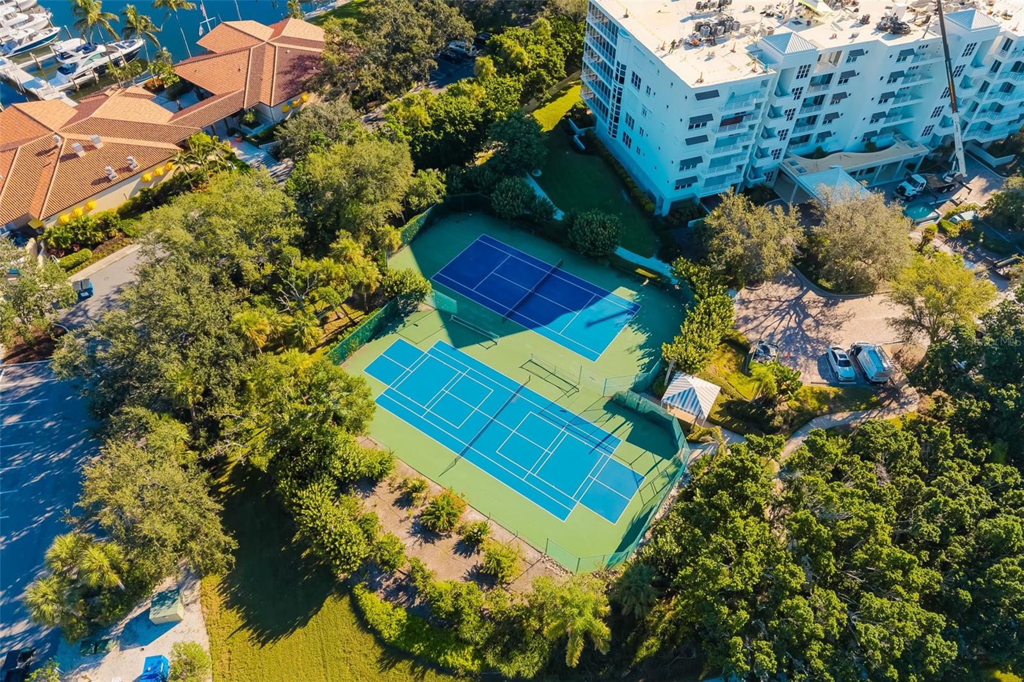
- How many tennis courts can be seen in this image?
two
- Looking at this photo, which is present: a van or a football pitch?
van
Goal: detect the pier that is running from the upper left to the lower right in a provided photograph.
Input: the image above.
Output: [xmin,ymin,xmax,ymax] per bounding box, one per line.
[0,54,82,109]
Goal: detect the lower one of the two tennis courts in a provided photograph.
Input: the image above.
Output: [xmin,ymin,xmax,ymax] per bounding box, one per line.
[332,305,683,573]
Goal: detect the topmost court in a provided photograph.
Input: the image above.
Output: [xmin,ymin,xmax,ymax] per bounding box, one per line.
[389,210,684,398]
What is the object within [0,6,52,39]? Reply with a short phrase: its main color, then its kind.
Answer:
white boat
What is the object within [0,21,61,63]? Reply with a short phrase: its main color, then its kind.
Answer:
white boat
